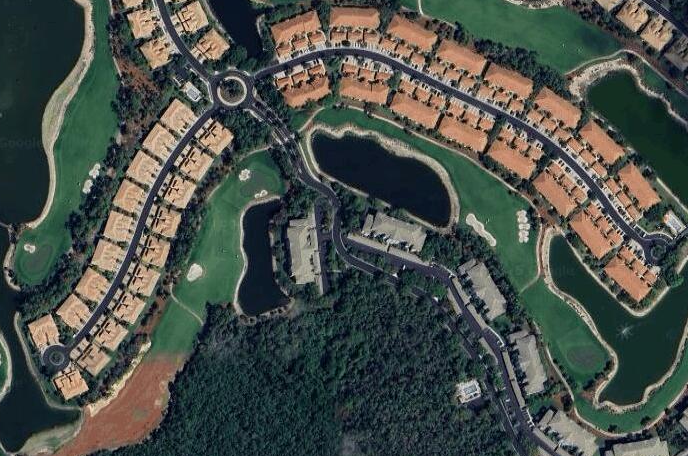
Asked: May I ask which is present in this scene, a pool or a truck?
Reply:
pool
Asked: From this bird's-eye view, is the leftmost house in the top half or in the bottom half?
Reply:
bottom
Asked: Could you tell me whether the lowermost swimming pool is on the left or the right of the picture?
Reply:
right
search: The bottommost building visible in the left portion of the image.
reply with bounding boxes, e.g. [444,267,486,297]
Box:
[57,369,88,400]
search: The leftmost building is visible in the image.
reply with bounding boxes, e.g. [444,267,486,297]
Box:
[27,312,59,344]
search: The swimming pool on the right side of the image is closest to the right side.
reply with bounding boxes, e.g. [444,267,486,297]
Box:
[665,210,686,237]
